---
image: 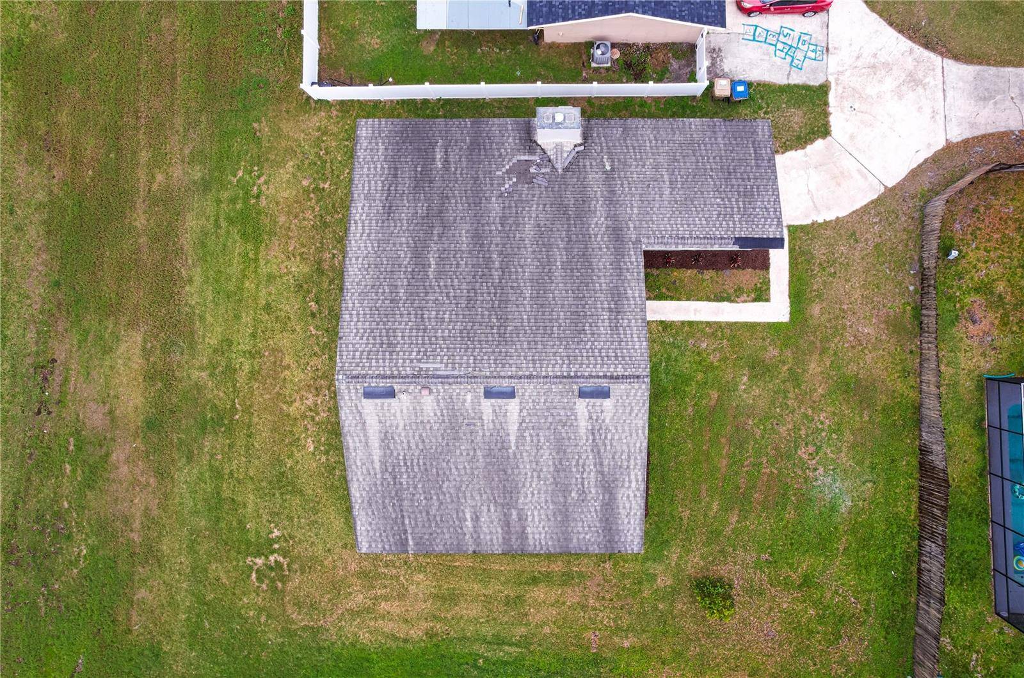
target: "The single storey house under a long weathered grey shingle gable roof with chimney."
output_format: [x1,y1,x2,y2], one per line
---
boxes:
[337,104,785,554]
